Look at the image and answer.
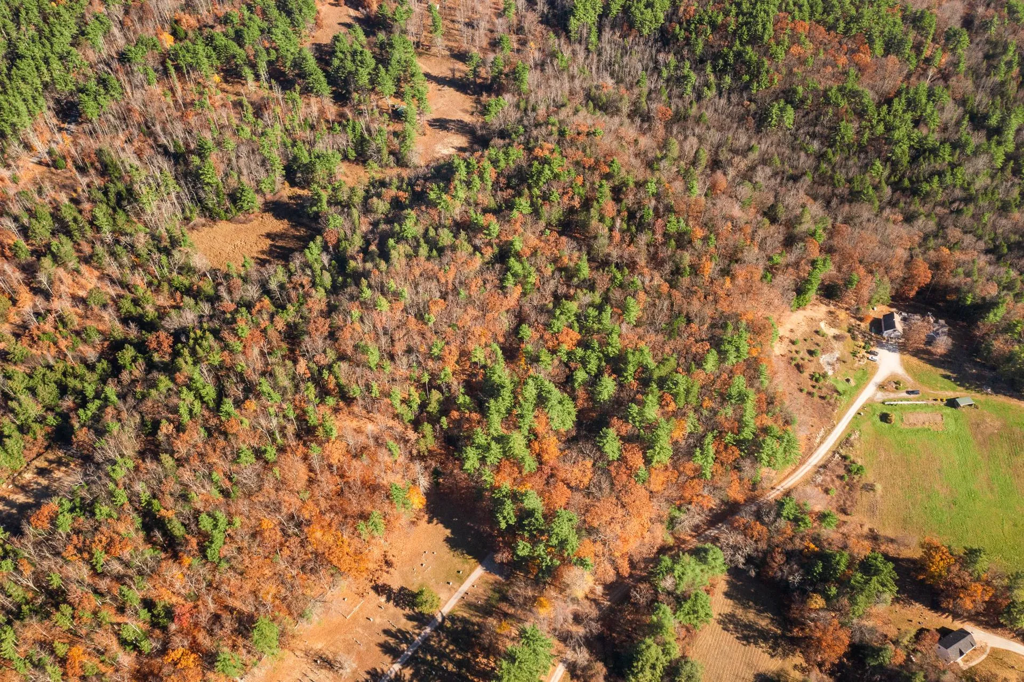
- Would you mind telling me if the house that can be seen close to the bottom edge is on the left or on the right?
right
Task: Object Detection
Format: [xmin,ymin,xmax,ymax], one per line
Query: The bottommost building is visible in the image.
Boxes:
[933,625,977,665]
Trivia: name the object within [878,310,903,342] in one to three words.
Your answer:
barn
